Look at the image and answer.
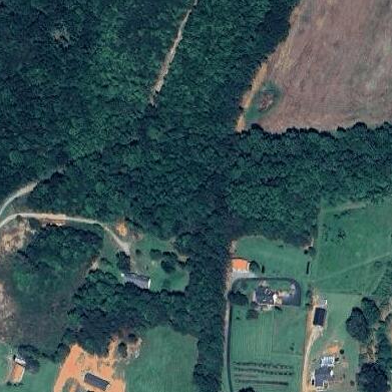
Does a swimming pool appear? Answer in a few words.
No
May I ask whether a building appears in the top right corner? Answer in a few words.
No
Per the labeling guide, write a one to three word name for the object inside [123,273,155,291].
house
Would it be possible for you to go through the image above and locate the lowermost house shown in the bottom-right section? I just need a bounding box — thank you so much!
[312,363,335,391]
